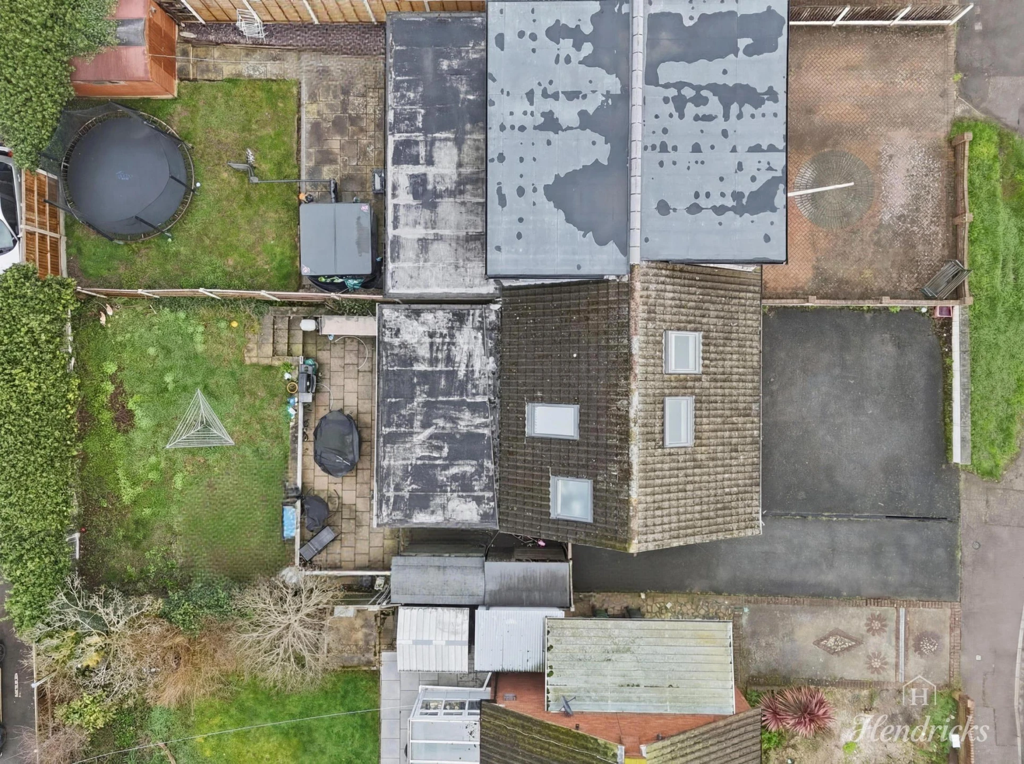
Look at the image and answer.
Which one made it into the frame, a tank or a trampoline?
trampoline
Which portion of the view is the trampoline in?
top left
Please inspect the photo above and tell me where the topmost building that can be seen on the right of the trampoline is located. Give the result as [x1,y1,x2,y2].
[385,0,790,304]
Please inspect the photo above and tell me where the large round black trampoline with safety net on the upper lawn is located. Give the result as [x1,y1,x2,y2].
[28,85,204,243]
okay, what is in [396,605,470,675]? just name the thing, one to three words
shed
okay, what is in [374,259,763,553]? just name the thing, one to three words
house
